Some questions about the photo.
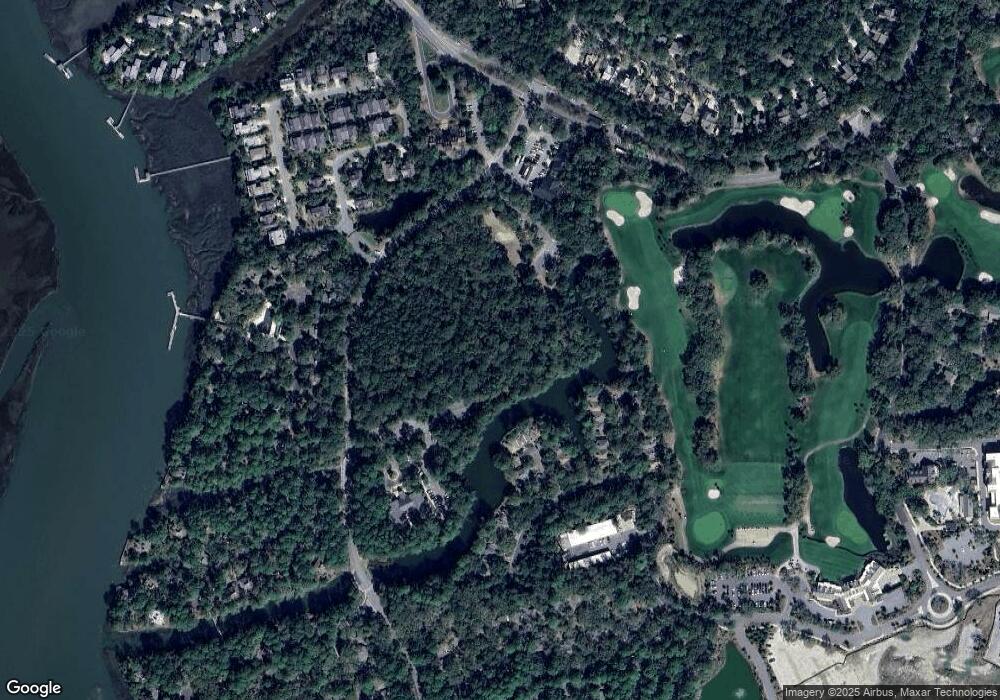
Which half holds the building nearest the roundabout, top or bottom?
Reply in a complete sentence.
Seen from above, the building nearest the roundabout lies in the bottom half of the view.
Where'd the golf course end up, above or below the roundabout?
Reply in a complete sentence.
Looking at the scene, the golf course is located above the roundabout.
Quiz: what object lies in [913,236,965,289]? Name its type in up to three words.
pond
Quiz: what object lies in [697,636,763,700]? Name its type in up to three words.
pond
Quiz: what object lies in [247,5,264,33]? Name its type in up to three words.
house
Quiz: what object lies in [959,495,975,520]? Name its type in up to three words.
building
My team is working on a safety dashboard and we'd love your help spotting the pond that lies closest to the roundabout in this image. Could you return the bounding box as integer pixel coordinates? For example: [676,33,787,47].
[839,447,888,551]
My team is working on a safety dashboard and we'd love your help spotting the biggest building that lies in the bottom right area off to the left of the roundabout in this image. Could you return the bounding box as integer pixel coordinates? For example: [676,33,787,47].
[813,559,900,611]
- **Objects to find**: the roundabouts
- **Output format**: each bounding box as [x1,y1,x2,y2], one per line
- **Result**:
[921,585,960,624]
